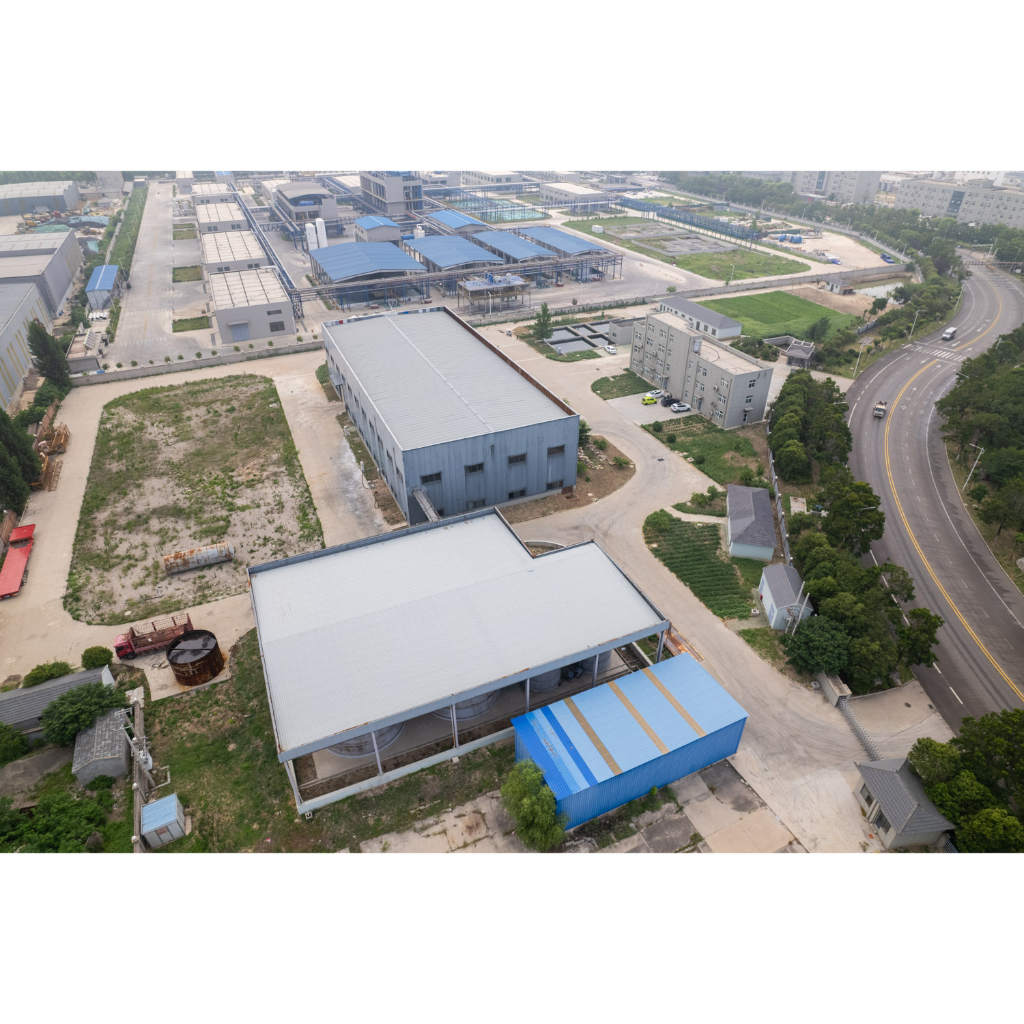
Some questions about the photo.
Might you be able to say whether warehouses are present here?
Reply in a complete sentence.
Yes, you can see a warehouse in this photo.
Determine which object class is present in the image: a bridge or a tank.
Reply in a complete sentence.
This aerial view contains a tank.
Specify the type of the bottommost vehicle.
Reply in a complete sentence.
In the photo, the bottommost vehicle shows up as a truck.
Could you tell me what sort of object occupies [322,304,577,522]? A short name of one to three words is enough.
warehouse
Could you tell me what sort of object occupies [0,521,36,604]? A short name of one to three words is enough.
trailer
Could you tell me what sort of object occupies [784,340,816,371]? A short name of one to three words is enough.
building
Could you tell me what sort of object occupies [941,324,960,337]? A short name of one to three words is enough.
vehicle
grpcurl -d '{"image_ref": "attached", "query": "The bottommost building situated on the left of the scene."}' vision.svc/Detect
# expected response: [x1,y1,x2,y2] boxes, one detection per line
[141,793,193,847]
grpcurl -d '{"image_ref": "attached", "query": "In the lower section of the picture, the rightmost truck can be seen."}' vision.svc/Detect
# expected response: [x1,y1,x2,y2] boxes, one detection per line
[113,602,200,660]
